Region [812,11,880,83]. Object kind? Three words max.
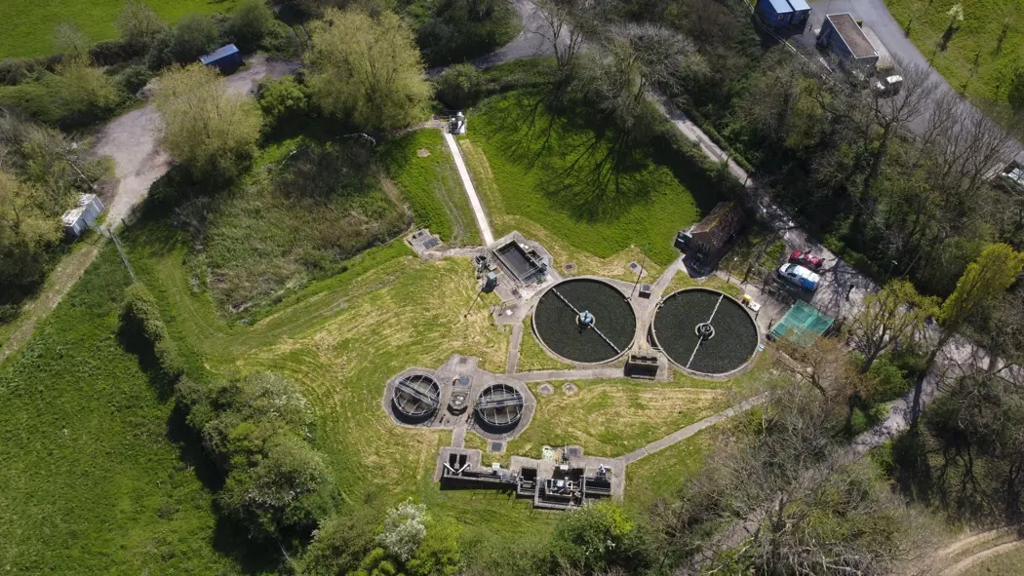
building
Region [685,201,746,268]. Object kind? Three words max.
house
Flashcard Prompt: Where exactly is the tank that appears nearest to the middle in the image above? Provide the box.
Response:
[493,240,541,284]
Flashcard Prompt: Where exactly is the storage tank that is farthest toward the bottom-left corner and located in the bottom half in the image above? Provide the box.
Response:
[393,372,441,420]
